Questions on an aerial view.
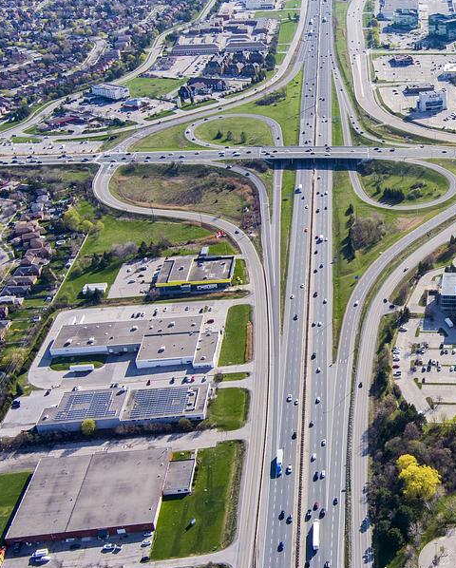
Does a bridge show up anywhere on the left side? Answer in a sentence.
No, looking on the left side, there is no bridge.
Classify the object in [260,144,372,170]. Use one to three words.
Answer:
bridge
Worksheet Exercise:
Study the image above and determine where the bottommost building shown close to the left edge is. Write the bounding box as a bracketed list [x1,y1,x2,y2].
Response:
[6,449,173,547]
